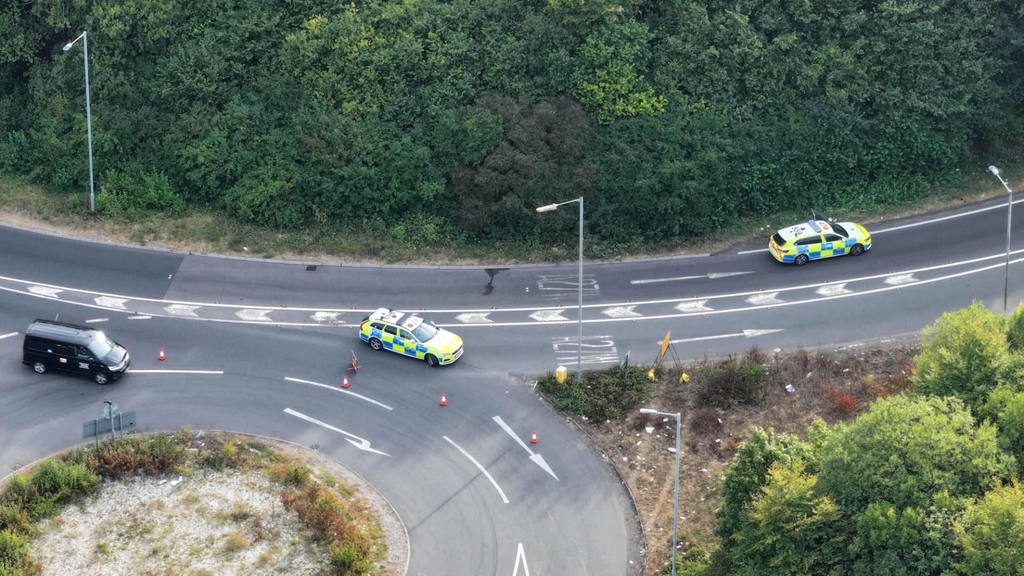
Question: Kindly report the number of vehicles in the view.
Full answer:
In total, 3 vehicles can be seen.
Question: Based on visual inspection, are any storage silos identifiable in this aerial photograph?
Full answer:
No, there appears to be no storage silo in this shot.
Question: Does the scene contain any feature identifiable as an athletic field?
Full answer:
No, the picture doesn't show any athletic field.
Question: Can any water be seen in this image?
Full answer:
No, no water is visible.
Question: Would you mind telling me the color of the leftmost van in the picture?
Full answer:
The leftmost van is black.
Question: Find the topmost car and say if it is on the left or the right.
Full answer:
The topmost car sits on the right side.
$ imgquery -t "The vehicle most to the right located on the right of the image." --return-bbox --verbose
[768,208,872,265]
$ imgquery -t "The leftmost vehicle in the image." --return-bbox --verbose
[19,315,130,383]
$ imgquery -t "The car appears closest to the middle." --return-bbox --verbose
[358,307,464,366]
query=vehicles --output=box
[19,315,130,383]
[358,307,464,366]
[768,208,872,265]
